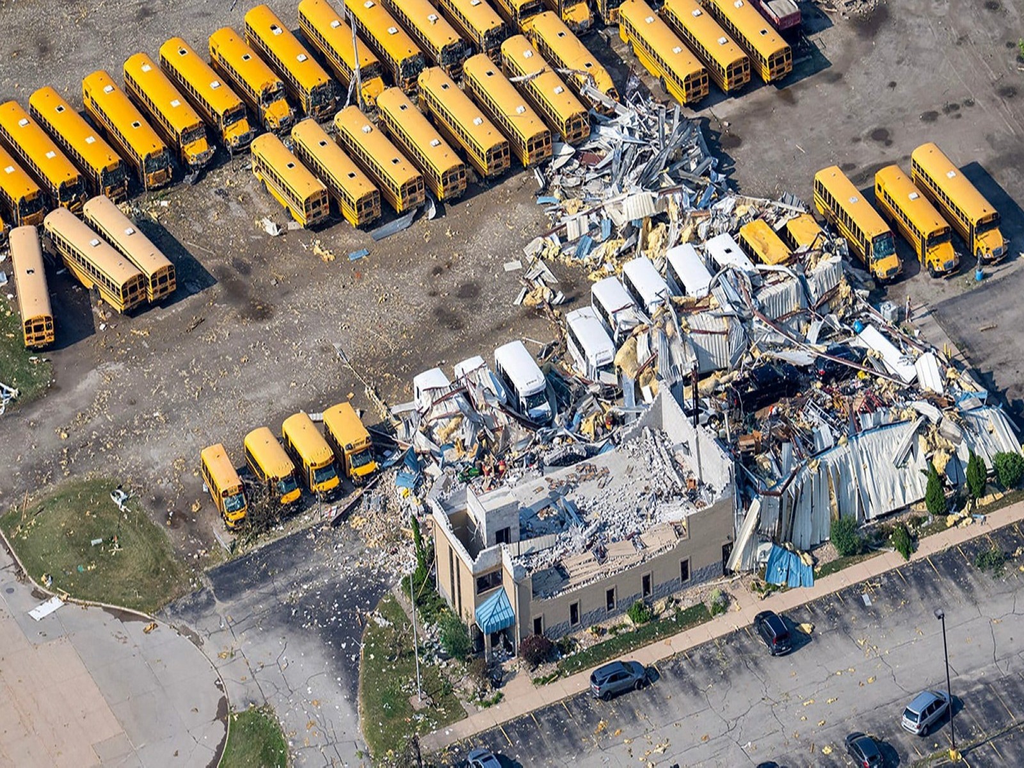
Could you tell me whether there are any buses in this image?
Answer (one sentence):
Yes, a bus can be made out from above.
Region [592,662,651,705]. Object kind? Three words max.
car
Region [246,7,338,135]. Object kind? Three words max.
bus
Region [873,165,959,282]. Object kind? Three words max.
bus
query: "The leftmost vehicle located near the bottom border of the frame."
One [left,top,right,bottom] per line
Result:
[463,740,503,768]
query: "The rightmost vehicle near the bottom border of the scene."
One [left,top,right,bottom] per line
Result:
[892,689,957,739]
